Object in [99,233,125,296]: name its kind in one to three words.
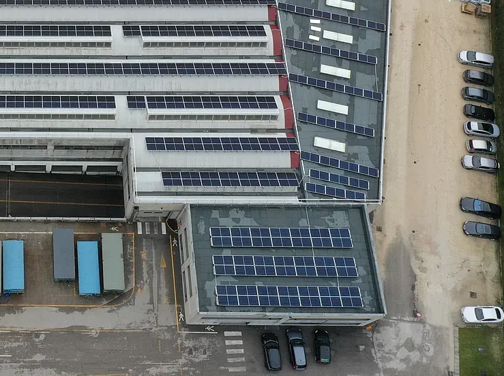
shipping container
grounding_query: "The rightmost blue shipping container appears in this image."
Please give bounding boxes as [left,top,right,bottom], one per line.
[74,241,100,300]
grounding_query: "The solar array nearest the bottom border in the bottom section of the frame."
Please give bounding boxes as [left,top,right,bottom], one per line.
[216,285,363,306]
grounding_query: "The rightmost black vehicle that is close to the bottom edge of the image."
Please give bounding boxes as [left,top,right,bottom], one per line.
[312,328,335,365]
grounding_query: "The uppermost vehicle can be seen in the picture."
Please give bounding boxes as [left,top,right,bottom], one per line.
[459,48,499,67]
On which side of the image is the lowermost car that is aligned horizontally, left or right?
right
